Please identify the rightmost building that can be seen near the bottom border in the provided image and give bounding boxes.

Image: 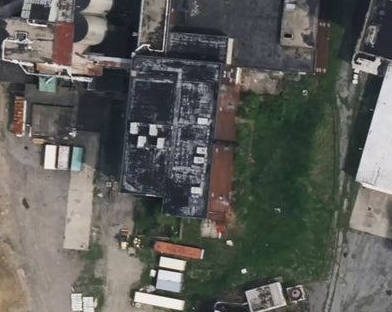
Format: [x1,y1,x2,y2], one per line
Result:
[246,281,291,312]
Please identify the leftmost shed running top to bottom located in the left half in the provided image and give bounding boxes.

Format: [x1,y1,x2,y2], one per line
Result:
[13,96,29,138]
